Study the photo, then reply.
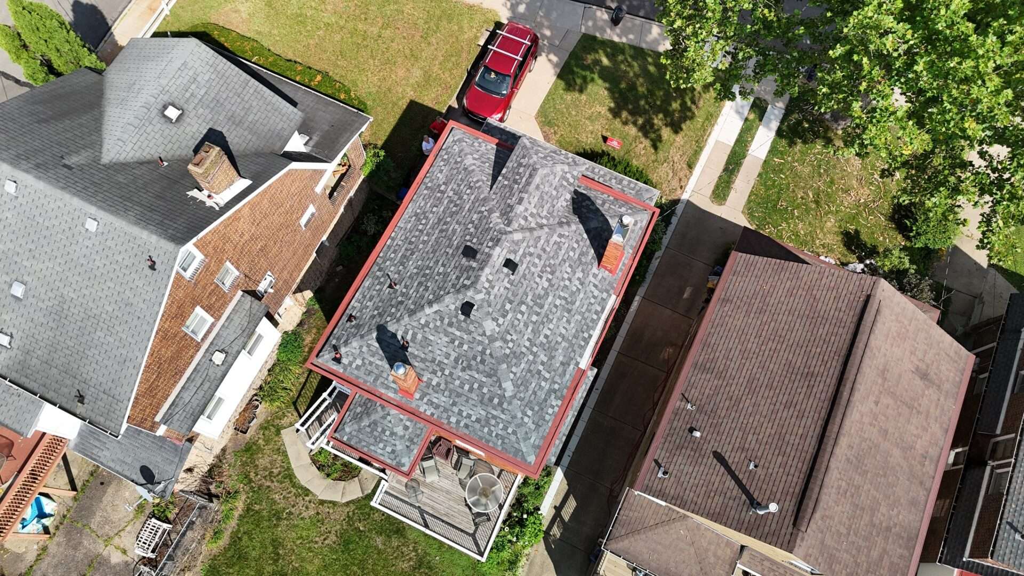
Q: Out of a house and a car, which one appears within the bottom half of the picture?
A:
house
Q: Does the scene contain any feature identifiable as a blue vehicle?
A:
No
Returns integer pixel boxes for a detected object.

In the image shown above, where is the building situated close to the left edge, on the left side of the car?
[0,36,375,503]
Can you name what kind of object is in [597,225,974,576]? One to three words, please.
house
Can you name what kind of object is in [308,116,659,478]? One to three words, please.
house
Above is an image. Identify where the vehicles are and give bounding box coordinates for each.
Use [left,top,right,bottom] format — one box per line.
[459,18,546,123]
